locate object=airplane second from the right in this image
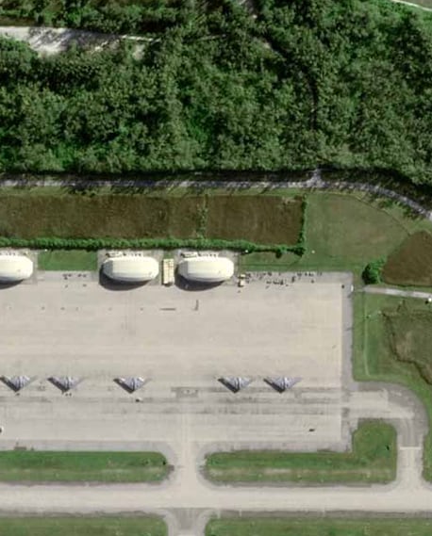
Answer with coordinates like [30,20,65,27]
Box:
[220,376,254,392]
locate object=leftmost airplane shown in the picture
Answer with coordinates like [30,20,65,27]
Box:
[1,376,35,391]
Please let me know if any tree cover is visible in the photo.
Yes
